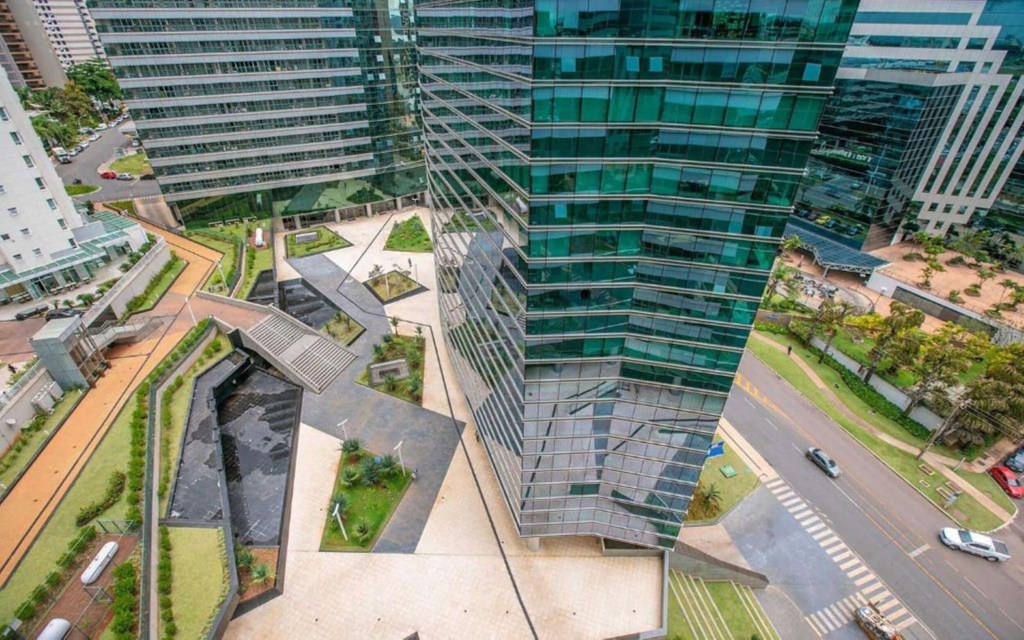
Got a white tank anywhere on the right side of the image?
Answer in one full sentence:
No, looking on the right side of the image, there is no white tank.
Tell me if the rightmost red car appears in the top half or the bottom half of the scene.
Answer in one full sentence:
The rightmost red car sits in the bottom half of the picture.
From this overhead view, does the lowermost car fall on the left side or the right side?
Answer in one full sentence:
It is on the right.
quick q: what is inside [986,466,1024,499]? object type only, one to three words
car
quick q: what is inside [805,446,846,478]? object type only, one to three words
car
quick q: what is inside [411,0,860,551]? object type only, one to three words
building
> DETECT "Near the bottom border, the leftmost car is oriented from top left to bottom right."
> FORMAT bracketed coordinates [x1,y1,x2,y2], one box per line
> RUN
[851,598,910,640]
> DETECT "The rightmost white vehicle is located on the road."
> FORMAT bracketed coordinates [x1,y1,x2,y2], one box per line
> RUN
[944,530,1015,564]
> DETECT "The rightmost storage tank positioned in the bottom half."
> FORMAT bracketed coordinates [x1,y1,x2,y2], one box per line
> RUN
[82,544,120,580]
